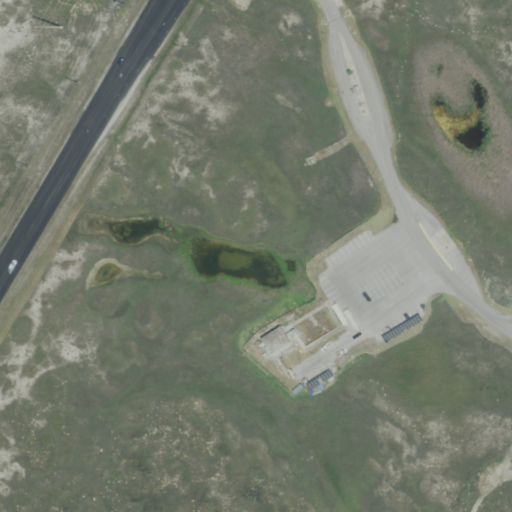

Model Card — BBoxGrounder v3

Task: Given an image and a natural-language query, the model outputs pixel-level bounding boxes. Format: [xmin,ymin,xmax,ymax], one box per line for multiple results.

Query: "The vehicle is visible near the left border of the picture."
[5,258,18,274]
